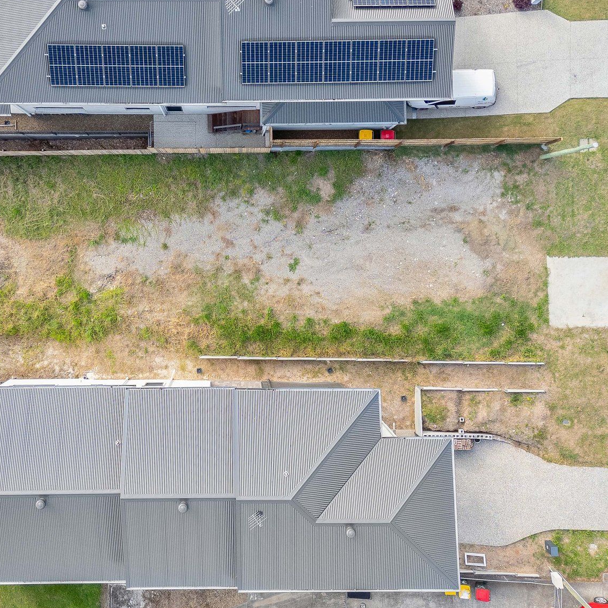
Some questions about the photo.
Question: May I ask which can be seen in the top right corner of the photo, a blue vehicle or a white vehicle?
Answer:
white vehicle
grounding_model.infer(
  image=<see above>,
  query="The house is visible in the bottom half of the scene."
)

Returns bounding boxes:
[0,369,463,594]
